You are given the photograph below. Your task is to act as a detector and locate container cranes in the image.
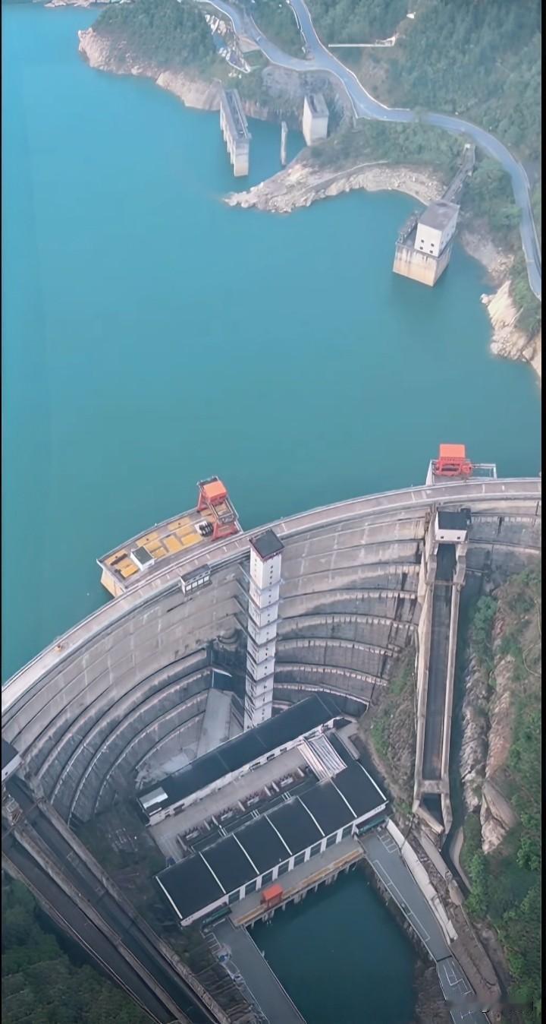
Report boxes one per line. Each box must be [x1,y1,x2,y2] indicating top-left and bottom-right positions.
[432,444,474,480]
[195,474,242,546]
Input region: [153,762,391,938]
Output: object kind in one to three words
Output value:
building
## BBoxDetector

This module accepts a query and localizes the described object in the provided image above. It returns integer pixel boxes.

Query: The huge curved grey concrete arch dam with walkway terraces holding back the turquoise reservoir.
[0,477,546,859]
